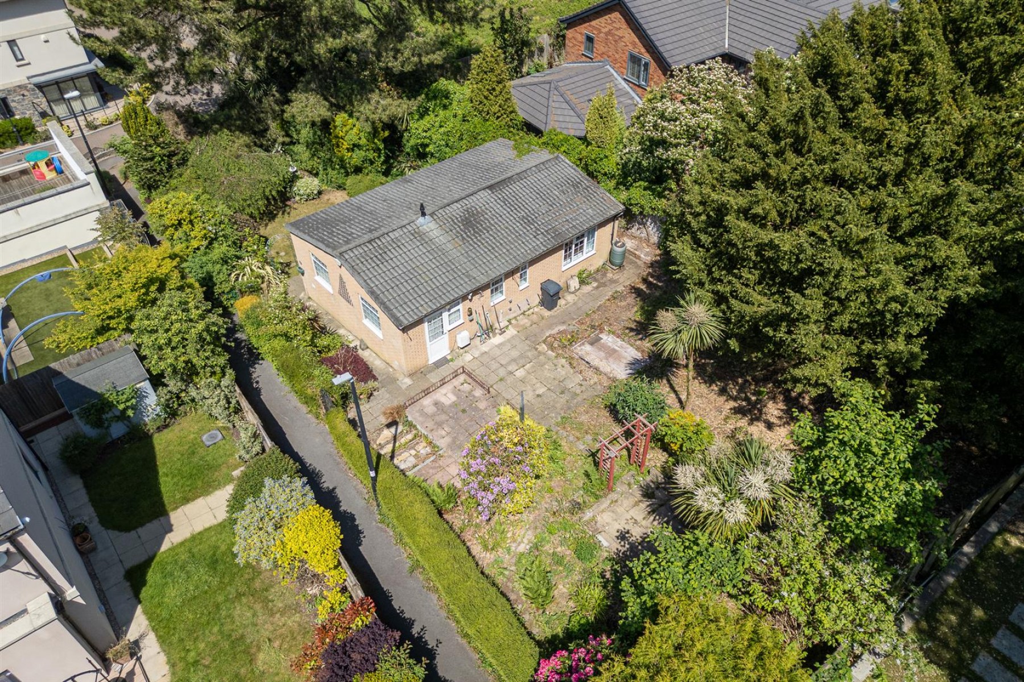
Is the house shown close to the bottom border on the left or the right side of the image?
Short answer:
left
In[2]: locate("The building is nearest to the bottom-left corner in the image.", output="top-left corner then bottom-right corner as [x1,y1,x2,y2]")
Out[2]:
[0,415,114,682]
